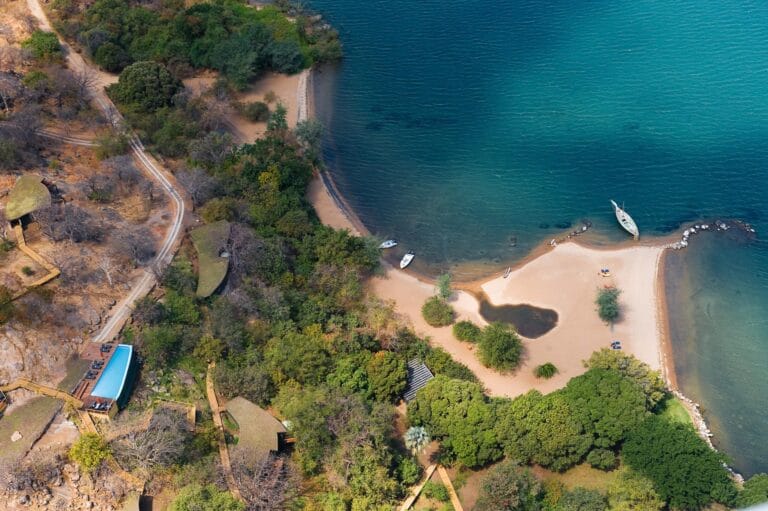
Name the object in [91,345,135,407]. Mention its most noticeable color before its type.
blue swimming pool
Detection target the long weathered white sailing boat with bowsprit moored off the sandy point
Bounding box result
[614,197,641,239]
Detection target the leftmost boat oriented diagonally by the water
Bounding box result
[402,250,416,267]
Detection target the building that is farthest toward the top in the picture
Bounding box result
[5,175,52,224]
